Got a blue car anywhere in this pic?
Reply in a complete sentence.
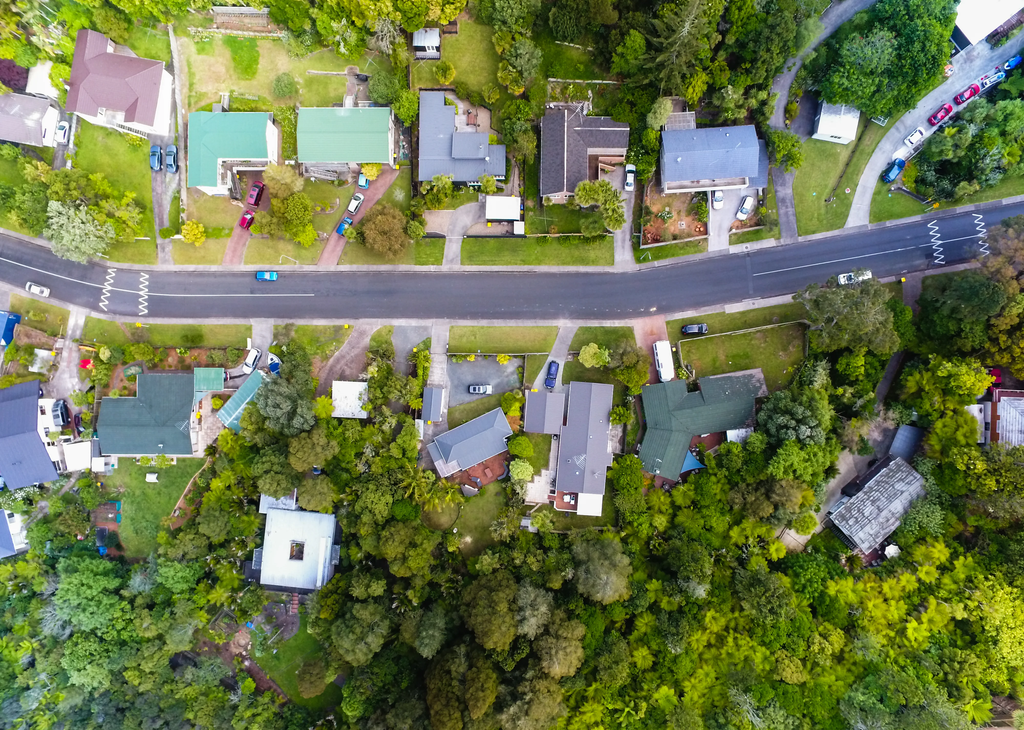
Yes, a blue car can be made out from above.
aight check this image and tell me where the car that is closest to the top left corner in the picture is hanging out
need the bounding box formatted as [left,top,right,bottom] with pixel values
[56,121,70,144]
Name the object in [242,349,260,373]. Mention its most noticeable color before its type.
white car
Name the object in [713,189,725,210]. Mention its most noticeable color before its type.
white vehicle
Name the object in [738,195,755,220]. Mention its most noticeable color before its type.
white car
